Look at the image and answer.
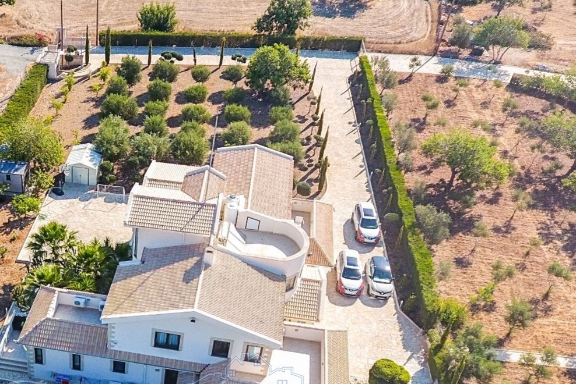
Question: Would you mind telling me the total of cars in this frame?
3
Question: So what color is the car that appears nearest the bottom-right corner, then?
white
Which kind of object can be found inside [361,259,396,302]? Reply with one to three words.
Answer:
car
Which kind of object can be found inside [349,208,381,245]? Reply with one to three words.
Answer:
car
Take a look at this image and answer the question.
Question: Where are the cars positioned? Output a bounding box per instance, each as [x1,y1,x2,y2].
[330,254,365,298]
[361,259,396,302]
[349,208,381,245]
